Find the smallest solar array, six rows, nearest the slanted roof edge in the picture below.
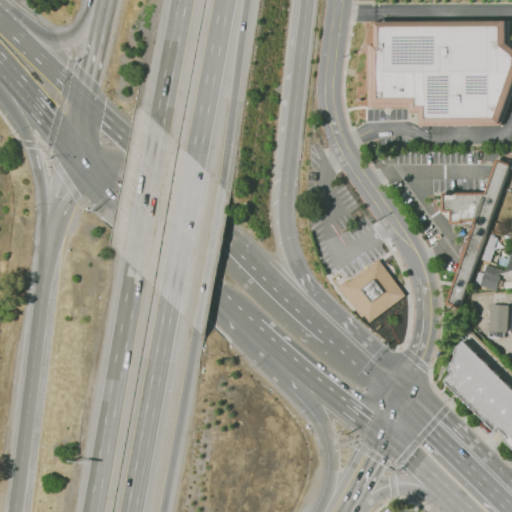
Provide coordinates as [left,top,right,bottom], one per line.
[466,76,487,94]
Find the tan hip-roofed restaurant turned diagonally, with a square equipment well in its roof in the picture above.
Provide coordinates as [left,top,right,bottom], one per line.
[340,260,406,322]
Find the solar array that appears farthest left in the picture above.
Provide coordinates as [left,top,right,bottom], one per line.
[392,36,434,64]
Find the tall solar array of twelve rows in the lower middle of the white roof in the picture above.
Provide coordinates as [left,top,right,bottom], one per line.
[428,76,448,114]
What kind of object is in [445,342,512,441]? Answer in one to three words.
building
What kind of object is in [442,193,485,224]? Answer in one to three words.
building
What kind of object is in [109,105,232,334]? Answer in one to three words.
overpass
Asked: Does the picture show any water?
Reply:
No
